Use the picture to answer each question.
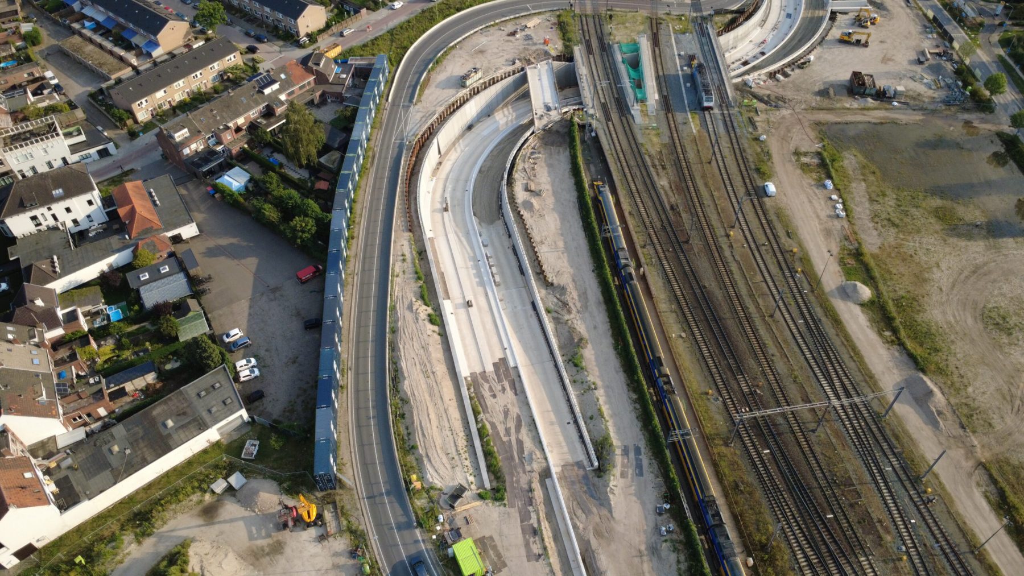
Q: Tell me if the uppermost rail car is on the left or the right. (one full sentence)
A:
The uppermost rail car appears in the right half of the scene.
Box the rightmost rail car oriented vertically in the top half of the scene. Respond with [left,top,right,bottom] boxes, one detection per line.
[691,58,714,108]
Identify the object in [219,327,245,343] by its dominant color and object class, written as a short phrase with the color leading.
white car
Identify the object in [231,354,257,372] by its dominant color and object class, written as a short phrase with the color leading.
white car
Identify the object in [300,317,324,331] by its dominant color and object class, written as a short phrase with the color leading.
black car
